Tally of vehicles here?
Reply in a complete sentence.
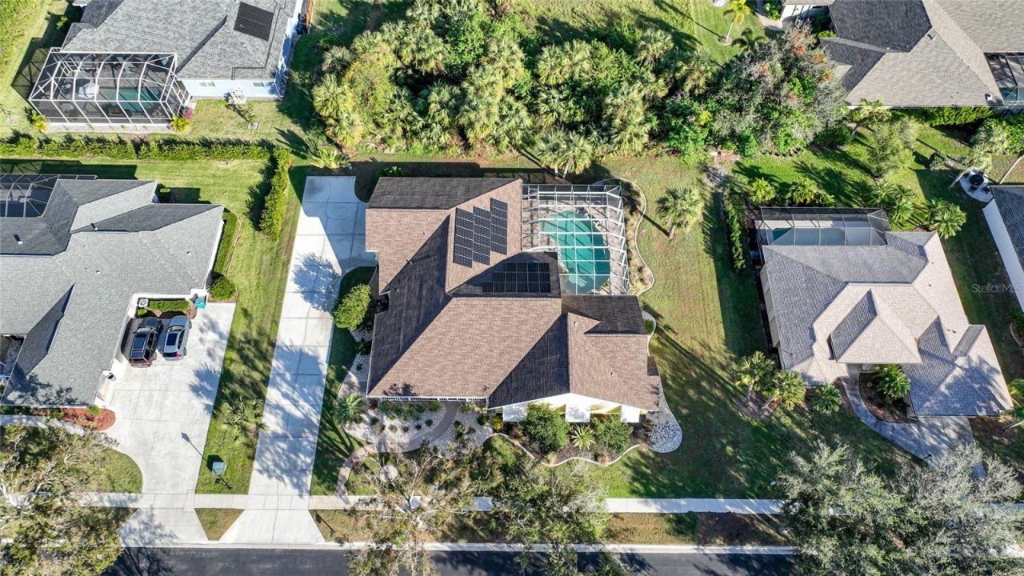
My tally gives 2 vehicles in this view.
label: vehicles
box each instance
[128,319,165,371]
[157,315,195,365]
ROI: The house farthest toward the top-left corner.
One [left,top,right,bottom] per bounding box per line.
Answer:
[61,0,303,97]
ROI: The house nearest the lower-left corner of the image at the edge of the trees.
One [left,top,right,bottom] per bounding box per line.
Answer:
[0,179,229,413]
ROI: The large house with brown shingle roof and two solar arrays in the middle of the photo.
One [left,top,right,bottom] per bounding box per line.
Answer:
[365,177,661,414]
